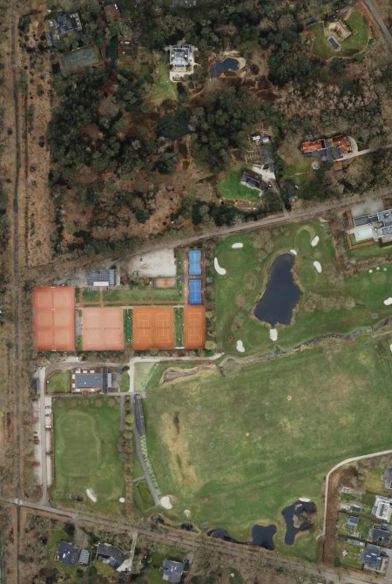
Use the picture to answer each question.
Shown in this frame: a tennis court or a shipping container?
tennis court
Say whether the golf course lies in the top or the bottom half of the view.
bottom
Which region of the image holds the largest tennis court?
left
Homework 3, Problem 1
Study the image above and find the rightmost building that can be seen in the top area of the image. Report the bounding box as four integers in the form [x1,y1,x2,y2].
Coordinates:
[354,207,392,235]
